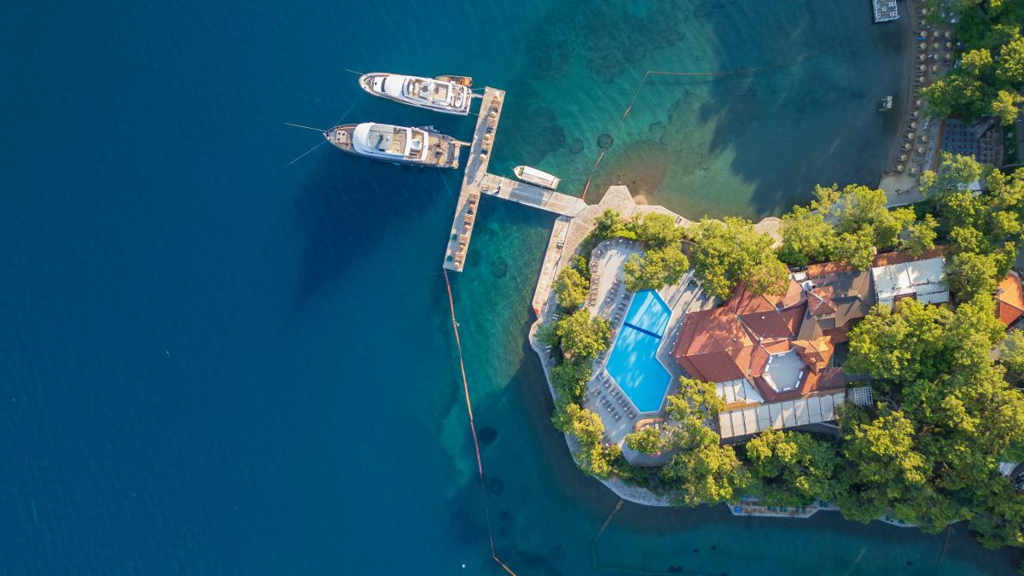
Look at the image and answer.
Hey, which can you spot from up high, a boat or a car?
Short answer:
boat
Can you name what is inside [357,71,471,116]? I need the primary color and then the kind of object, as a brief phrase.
white boat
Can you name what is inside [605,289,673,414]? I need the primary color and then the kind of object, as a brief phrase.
blue swimming pool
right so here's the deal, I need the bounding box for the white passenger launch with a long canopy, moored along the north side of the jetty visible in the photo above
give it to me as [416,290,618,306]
[513,165,560,189]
